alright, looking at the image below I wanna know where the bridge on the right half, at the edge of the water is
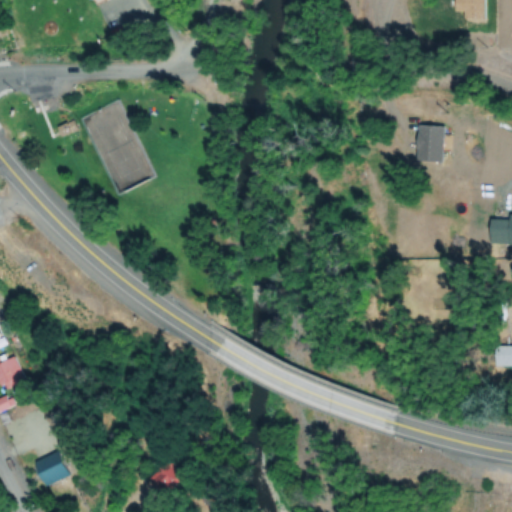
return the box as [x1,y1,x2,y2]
[214,332,401,436]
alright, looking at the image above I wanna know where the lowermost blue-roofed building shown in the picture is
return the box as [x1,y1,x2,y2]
[36,451,70,485]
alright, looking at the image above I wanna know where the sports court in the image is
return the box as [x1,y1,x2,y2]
[82,100,157,193]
